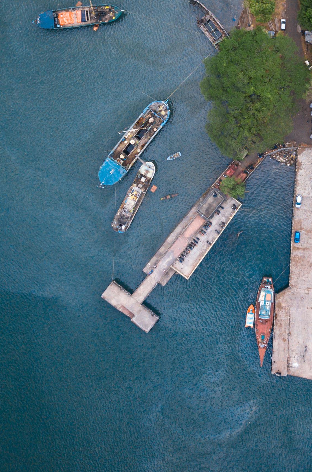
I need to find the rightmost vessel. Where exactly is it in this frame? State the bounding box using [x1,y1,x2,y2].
[254,276,276,366]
